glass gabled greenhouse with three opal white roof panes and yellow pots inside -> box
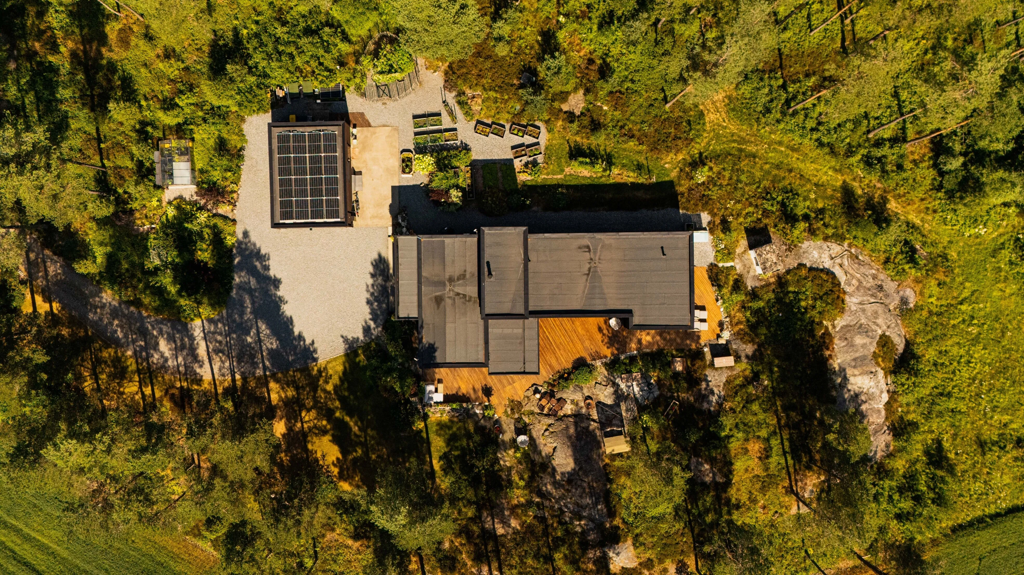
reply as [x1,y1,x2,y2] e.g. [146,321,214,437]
[158,135,197,183]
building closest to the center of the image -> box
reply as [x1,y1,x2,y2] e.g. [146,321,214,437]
[395,225,694,375]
